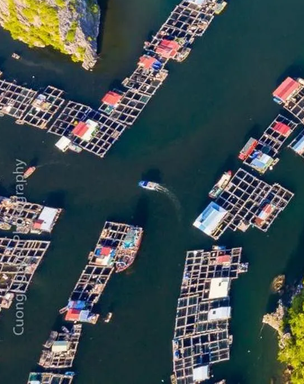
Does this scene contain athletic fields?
No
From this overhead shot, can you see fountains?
No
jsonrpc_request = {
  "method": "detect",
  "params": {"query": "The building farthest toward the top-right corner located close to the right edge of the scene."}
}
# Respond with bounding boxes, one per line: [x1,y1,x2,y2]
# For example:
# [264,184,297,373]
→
[274,75,304,107]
